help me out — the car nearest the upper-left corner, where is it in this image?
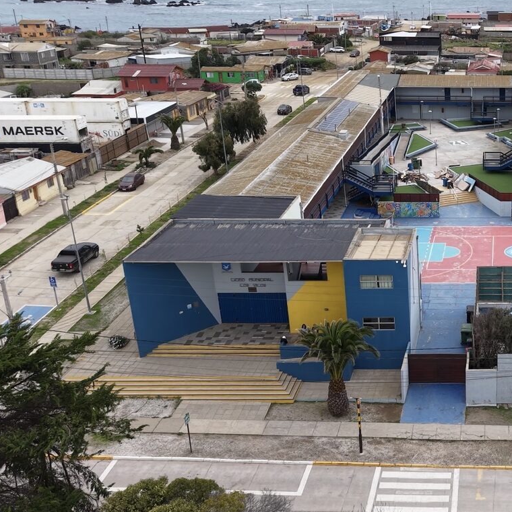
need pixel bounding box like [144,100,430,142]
[119,170,146,187]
